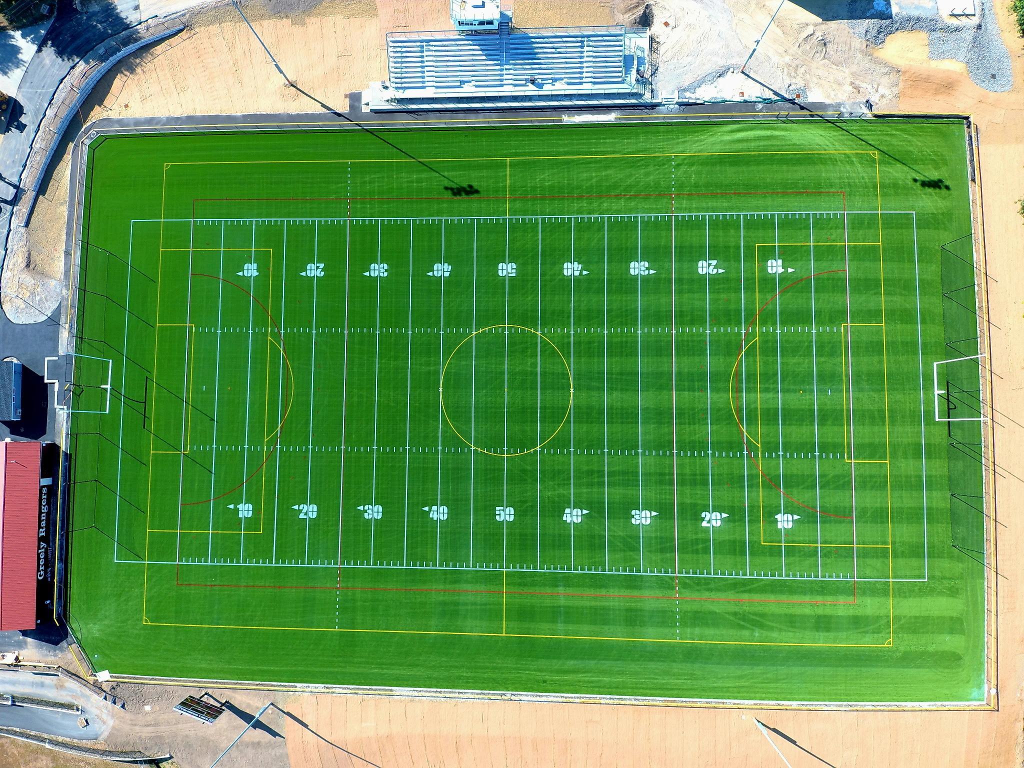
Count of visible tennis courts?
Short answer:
0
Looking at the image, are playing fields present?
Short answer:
Yes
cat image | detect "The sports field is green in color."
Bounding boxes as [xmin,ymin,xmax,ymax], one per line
[62,119,986,703]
